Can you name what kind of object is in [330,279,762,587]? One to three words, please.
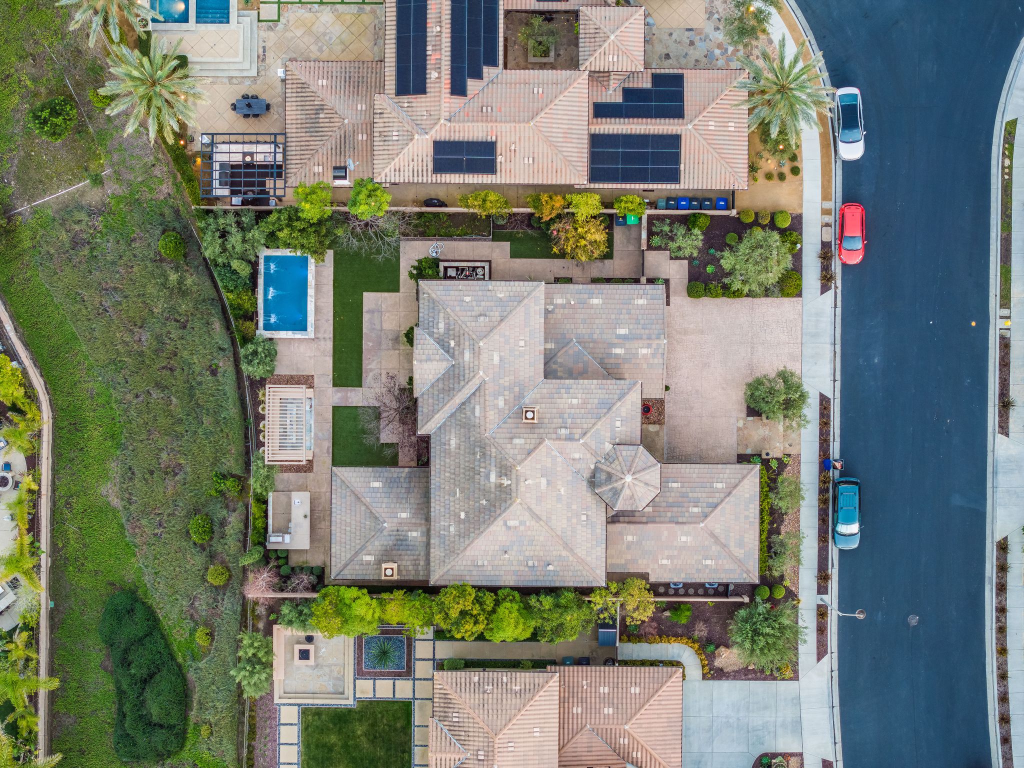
house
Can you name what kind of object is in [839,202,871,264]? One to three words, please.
car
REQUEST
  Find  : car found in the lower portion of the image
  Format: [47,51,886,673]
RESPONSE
[833,478,867,552]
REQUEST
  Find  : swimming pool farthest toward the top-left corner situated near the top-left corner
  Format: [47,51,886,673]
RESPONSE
[146,0,195,30]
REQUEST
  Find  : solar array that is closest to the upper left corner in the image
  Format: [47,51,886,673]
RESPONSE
[396,0,428,95]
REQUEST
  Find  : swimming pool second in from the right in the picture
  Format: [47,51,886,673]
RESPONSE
[195,0,238,30]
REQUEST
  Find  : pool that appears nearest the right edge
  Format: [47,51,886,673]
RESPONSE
[257,249,315,338]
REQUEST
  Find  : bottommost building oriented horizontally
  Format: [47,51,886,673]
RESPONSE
[428,664,685,768]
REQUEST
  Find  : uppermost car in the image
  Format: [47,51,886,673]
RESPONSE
[835,86,870,160]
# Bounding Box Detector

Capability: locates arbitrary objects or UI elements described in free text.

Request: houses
[428,664,685,768]
[284,0,750,191]
[330,279,762,587]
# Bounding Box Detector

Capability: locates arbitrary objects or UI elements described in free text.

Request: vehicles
[833,478,867,552]
[839,202,871,264]
[835,86,870,160]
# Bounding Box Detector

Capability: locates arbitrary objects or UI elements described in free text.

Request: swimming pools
[195,0,238,30]
[257,249,315,338]
[146,0,195,30]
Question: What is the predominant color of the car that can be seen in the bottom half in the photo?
blue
